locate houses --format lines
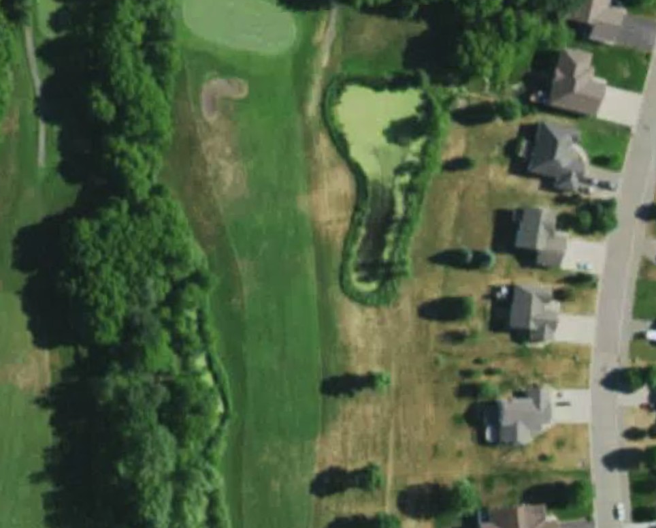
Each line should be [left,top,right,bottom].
[501,281,561,342]
[514,207,568,269]
[570,0,630,28]
[482,501,561,528]
[536,44,610,123]
[519,115,589,196]
[485,384,556,445]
